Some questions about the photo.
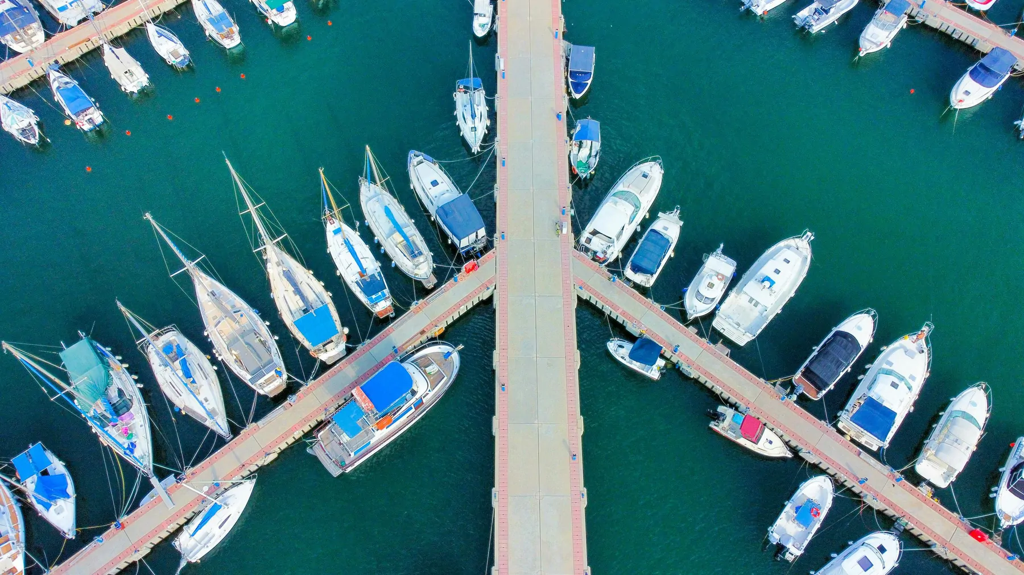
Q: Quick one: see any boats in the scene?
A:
Yes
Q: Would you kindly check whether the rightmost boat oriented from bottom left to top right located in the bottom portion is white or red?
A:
white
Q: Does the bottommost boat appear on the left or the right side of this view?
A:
right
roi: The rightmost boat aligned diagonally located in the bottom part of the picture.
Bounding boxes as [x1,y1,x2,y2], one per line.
[911,378,995,491]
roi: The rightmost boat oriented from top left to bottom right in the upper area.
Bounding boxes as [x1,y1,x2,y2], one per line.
[408,144,490,259]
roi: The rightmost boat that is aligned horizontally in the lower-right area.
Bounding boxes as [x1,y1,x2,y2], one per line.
[810,535,908,575]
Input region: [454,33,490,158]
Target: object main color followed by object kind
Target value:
white boat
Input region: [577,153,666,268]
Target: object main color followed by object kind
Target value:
white boat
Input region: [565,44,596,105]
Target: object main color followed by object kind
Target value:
blue boat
